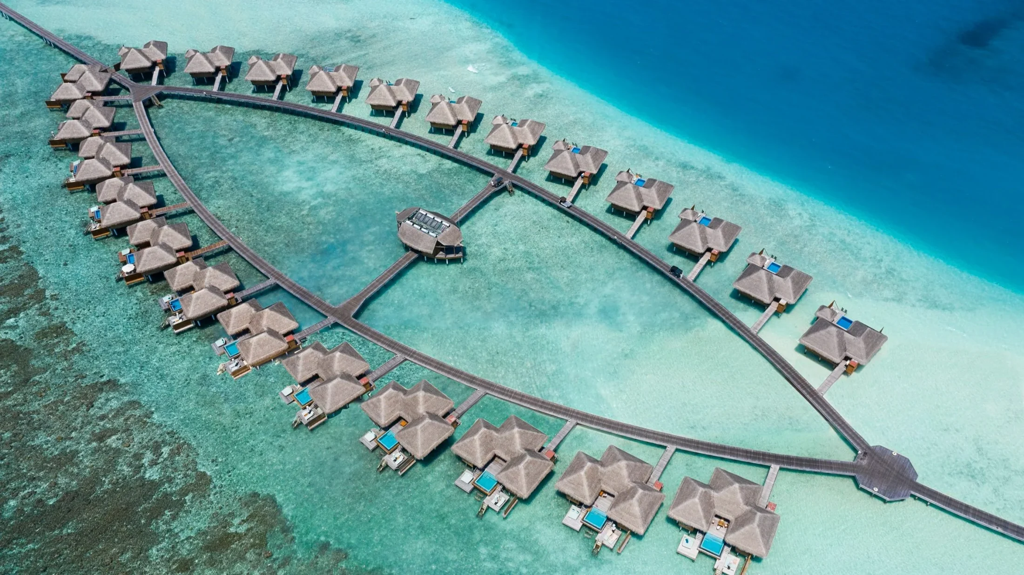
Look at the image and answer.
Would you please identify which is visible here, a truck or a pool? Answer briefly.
pool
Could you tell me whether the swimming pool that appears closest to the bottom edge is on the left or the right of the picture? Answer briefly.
right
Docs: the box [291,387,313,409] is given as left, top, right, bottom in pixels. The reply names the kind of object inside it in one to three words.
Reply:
swimming pool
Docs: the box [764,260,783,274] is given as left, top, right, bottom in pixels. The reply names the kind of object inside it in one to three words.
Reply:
swimming pool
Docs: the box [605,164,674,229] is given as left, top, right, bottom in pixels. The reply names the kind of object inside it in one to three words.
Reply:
house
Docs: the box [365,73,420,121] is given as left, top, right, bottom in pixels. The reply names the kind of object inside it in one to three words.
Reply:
house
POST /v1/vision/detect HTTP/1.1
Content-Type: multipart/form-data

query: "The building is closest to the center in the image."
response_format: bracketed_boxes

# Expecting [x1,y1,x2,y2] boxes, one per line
[395,208,465,268]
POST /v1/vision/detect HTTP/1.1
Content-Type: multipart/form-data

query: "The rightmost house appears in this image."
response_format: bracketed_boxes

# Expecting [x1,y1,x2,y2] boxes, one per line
[800,297,888,383]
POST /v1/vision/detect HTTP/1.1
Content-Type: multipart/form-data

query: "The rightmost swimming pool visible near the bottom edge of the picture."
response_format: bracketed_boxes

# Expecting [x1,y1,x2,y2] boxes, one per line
[698,534,727,561]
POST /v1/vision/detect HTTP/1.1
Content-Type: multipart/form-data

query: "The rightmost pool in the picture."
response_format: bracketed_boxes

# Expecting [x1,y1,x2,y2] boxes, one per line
[834,314,856,330]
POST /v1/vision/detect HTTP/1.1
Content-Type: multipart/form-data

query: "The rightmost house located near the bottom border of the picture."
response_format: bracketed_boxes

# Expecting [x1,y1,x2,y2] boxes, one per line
[669,468,781,575]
